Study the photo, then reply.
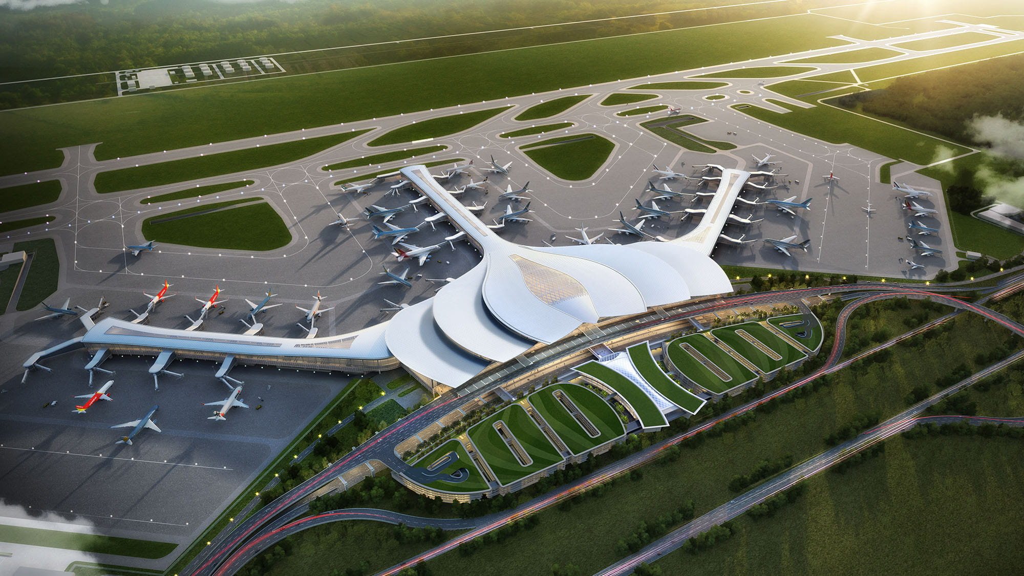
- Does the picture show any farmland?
No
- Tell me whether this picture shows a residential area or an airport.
airport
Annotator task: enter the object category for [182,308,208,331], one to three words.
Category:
jet bridge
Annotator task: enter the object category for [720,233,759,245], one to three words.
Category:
jet bridge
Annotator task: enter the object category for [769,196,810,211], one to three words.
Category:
airplane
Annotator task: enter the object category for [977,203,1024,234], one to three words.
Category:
hangar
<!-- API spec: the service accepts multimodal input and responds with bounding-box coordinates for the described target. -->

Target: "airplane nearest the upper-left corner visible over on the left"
[126,240,158,255]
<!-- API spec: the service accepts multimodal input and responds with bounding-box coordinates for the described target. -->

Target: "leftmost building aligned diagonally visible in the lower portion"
[463,437,498,492]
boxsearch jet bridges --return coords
[182,308,208,331]
[746,181,779,191]
[750,168,789,178]
[431,170,456,181]
[691,164,723,173]
[20,339,83,385]
[295,317,318,338]
[127,302,155,324]
[465,200,488,212]
[730,213,766,225]
[238,312,265,335]
[447,185,467,195]
[73,296,104,328]
[438,233,467,252]
[603,236,617,245]
[737,197,771,207]
[416,214,446,231]
[384,181,409,198]
[540,239,553,246]
[424,278,455,283]
[368,172,401,183]
[147,351,185,392]
[683,192,714,203]
[213,356,246,393]
[670,209,706,221]
[379,298,407,313]
[720,233,759,245]
[82,349,117,389]
[485,218,506,231]
[685,176,721,187]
